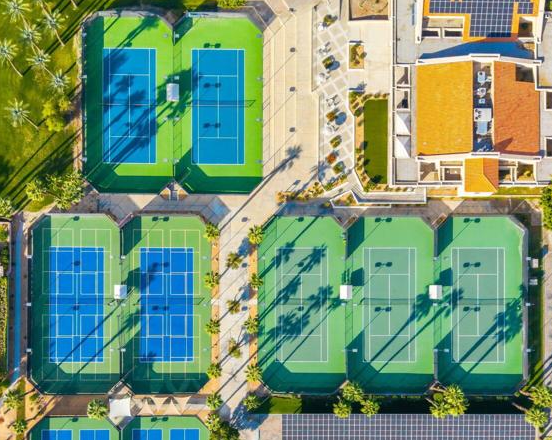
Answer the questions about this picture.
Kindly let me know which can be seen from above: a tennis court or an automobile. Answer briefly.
tennis court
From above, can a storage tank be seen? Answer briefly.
No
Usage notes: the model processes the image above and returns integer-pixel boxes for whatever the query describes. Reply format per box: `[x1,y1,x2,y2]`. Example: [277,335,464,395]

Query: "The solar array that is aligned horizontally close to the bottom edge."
[282,414,536,440]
